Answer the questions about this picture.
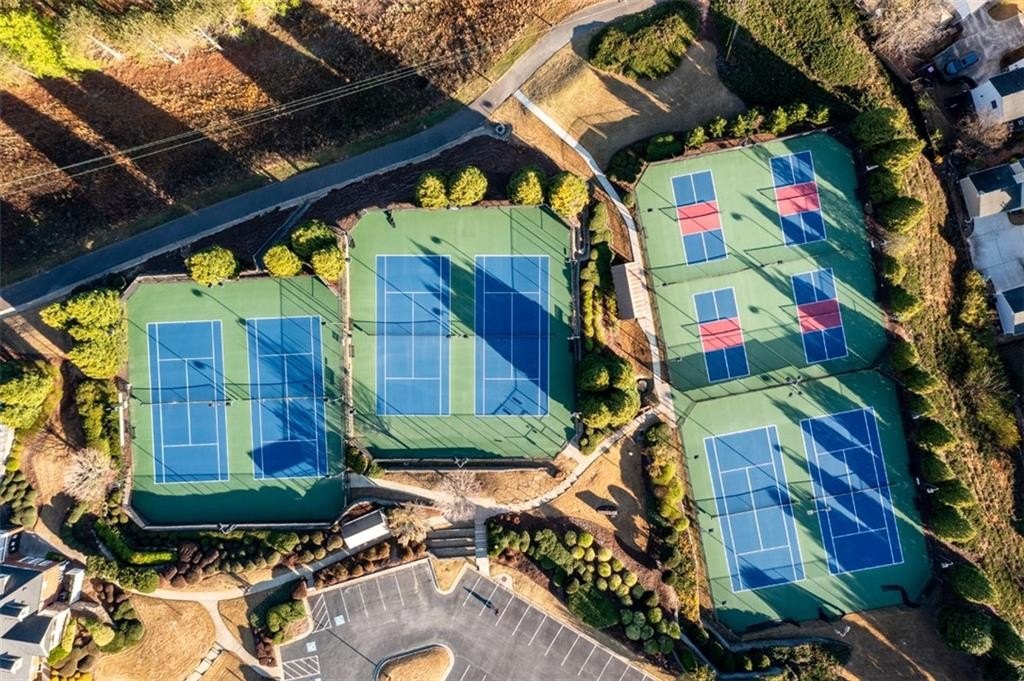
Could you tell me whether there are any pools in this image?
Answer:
No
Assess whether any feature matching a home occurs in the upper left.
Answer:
No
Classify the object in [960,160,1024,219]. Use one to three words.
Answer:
house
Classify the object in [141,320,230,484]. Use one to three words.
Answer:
tennis court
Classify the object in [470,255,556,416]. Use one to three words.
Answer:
tennis court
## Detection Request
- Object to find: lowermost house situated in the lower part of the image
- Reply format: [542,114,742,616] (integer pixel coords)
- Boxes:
[0,554,68,681]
